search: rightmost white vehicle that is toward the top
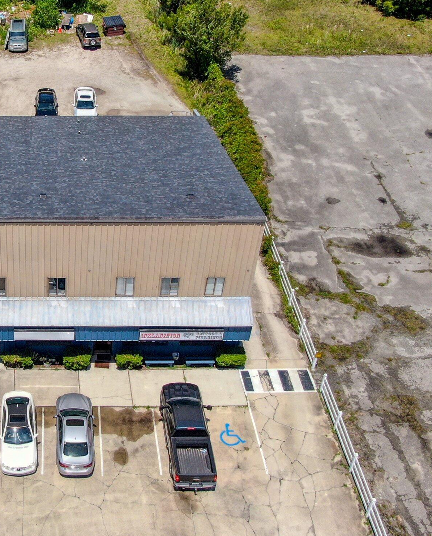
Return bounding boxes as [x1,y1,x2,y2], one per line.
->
[72,89,98,117]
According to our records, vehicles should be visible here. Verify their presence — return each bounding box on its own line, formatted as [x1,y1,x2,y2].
[53,394,97,475]
[33,90,59,117]
[6,19,30,51]
[72,89,98,117]
[159,385,218,494]
[0,392,40,476]
[74,23,101,49]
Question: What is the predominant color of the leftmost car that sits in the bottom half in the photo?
white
